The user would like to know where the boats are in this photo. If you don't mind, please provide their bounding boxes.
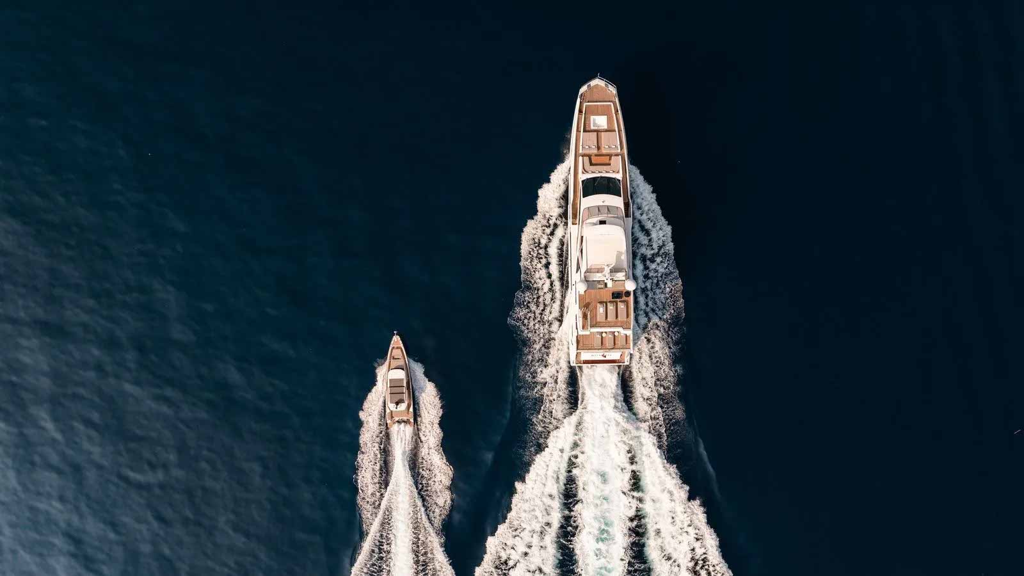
[385,332,414,428]
[569,68,636,366]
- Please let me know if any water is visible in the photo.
Yes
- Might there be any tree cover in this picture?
No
